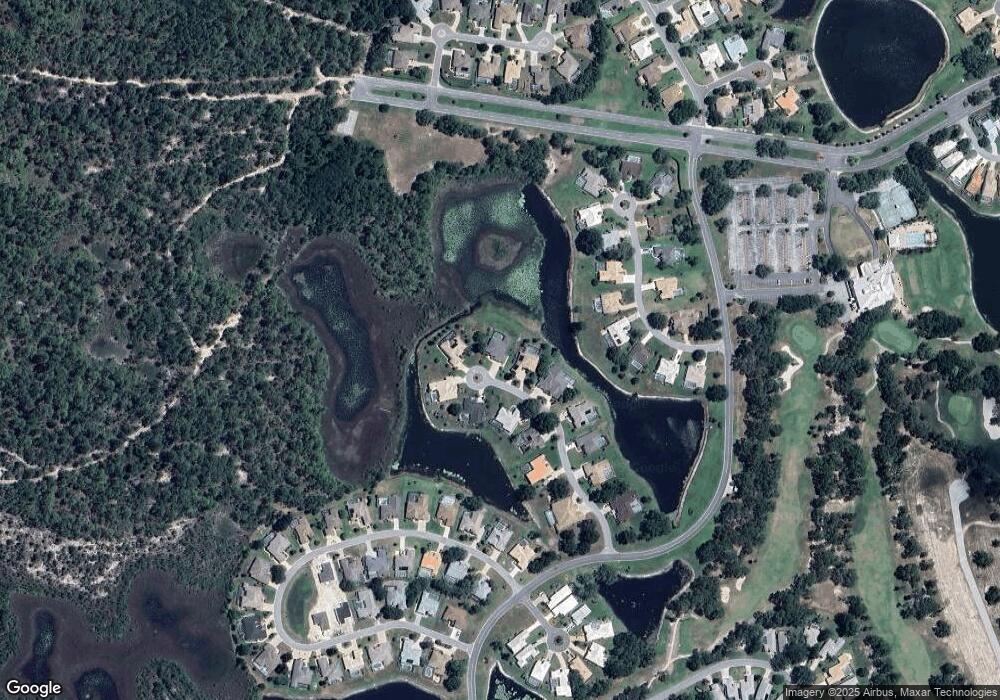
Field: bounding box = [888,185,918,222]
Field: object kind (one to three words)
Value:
tennis court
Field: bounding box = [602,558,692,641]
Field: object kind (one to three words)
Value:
pond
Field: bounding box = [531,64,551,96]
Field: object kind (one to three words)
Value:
house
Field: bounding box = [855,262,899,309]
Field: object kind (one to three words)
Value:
building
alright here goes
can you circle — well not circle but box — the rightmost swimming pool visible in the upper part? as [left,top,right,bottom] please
[889,221,937,249]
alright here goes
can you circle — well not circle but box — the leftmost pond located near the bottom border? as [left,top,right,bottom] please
[261,678,445,700]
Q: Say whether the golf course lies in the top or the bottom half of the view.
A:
bottom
